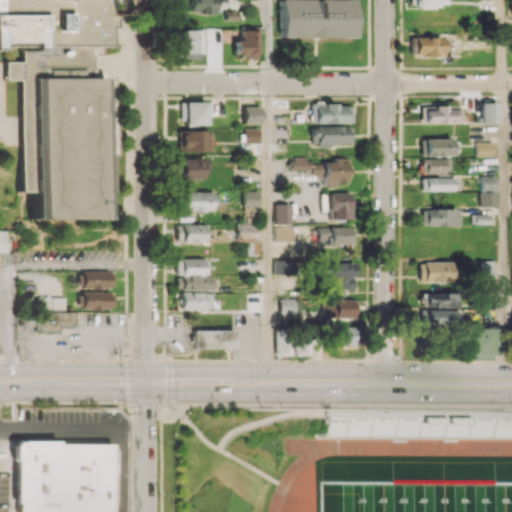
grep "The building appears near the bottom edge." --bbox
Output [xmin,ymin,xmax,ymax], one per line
[12,440,120,512]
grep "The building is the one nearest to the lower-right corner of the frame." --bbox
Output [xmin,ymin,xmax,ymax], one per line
[476,328,500,360]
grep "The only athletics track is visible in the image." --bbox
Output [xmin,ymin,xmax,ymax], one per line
[268,439,512,512]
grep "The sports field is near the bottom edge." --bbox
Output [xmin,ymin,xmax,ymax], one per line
[316,456,512,512]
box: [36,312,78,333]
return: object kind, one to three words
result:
building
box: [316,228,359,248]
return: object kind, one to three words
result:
house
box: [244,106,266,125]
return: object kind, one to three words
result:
building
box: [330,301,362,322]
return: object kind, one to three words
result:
house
